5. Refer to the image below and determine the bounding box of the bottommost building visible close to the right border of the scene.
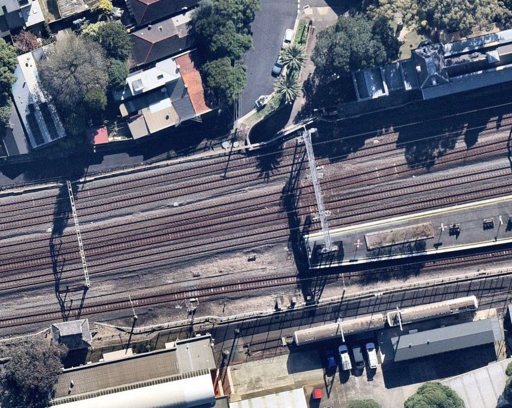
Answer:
[391,317,503,363]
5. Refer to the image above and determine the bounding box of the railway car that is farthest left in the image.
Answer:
[293,312,386,345]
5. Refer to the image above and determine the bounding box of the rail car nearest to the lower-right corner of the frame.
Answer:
[387,294,479,327]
